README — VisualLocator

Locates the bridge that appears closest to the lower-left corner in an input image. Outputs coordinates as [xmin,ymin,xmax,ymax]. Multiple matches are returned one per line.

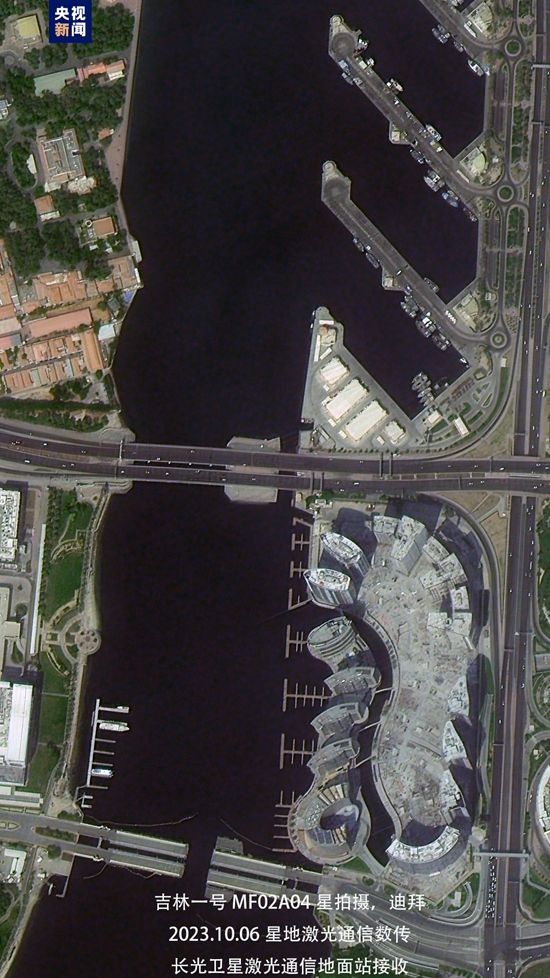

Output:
[79,823,189,878]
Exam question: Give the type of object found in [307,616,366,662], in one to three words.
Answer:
building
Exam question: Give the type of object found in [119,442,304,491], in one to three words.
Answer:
bridge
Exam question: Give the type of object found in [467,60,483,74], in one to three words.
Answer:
boat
